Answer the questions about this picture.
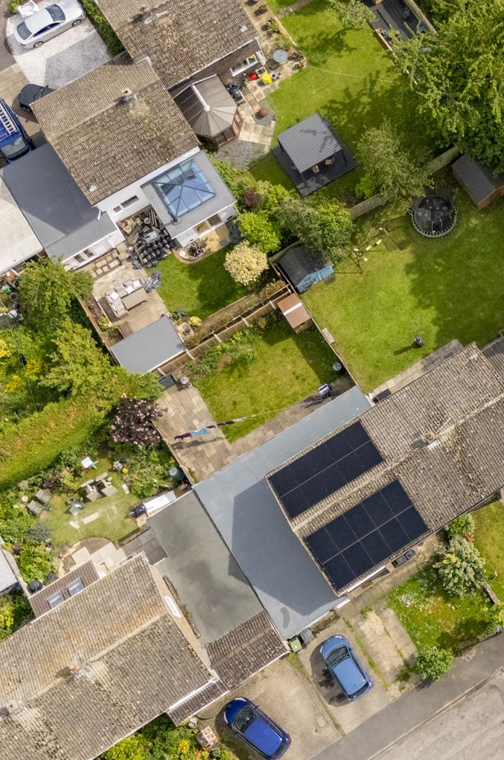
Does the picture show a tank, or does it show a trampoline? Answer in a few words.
trampoline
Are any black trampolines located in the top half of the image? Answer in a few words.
Yes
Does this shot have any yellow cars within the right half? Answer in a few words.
No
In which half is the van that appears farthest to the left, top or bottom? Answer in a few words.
top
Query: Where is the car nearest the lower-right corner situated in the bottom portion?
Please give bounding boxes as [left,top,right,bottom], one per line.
[321,633,374,705]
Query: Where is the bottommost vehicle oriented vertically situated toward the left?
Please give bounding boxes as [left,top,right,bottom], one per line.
[0,95,32,166]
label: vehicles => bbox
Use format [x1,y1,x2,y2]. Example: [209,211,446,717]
[227,695,292,760]
[13,5,89,53]
[19,76,65,112]
[0,95,32,166]
[321,633,374,705]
